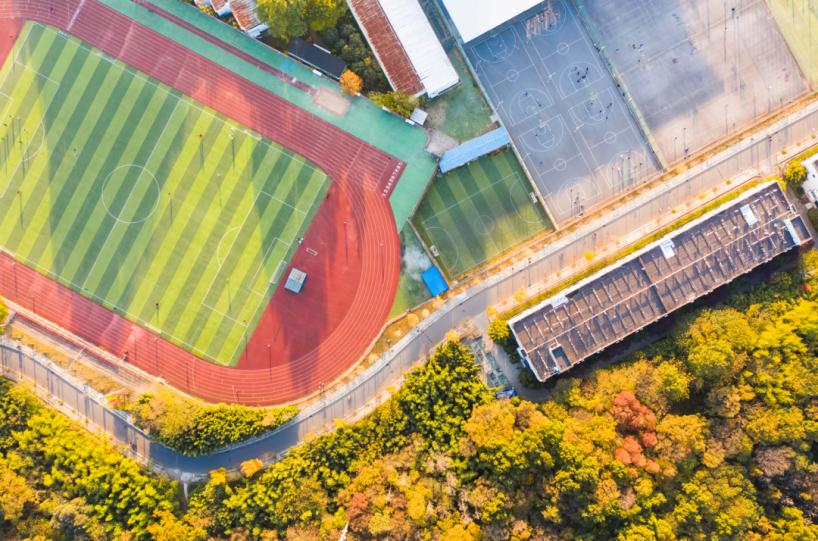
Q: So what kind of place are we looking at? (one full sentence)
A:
It's a sports ground.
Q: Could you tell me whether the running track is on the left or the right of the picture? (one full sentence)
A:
The running track sits on the left side.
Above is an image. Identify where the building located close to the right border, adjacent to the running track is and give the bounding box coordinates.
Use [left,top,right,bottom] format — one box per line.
[506,184,813,382]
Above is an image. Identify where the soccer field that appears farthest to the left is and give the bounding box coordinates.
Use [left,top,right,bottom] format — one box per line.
[0,20,332,368]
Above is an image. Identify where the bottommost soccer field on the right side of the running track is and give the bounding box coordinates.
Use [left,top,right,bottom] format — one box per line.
[411,141,556,288]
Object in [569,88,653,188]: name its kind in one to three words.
basketball court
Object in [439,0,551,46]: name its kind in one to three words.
building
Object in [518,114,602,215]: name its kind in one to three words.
basketball court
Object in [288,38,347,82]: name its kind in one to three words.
building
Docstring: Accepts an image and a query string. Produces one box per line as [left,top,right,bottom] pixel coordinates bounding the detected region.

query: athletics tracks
[0,0,406,408]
